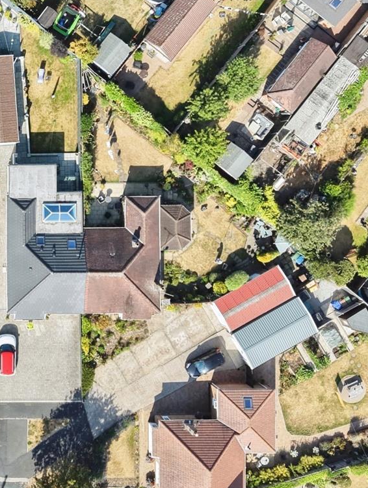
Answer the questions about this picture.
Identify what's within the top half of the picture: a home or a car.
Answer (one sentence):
You can see a home within the top half of the picture.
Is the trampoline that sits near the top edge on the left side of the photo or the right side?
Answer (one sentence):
You can find the trampoline that sits near the top edge on the left side of the picture.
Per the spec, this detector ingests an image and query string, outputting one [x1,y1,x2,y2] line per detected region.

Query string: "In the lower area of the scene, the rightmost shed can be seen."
[338,307,368,334]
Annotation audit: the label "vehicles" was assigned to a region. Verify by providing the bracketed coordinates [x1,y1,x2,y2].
[0,336,19,377]
[187,349,229,380]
